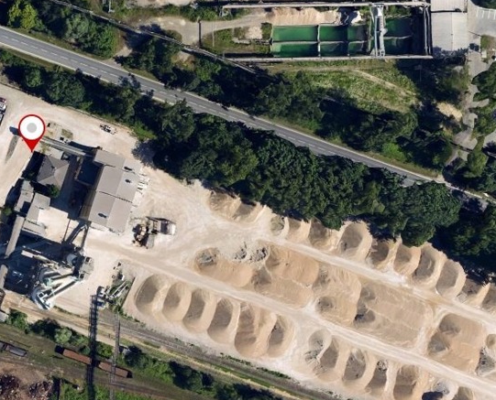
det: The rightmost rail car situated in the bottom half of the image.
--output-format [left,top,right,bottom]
[97,359,130,380]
